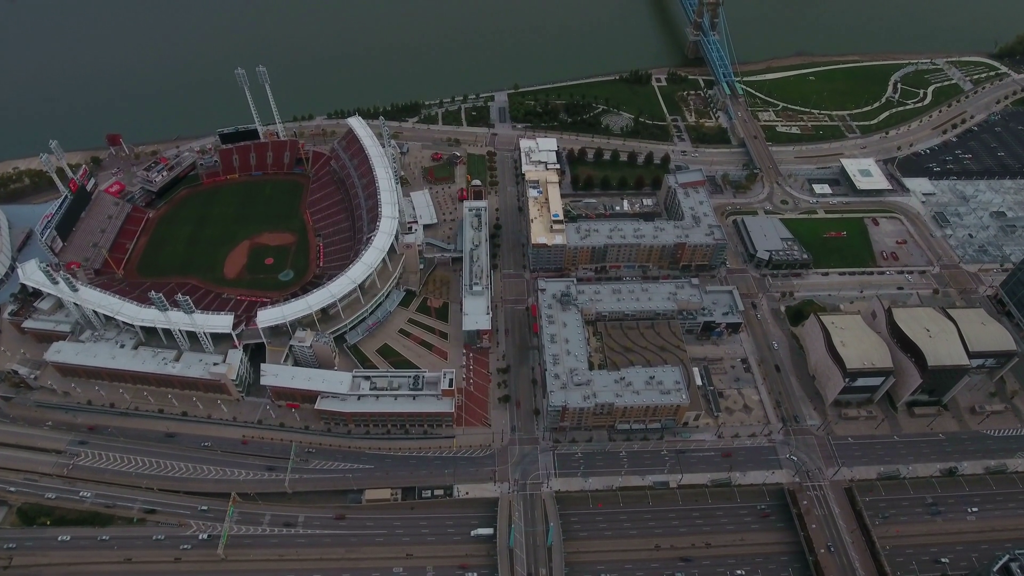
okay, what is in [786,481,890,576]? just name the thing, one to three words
overpass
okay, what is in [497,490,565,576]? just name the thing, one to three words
overpass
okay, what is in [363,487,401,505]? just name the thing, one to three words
building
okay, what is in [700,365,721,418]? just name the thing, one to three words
shed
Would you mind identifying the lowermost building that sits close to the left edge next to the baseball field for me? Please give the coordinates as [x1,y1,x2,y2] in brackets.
[44,326,226,394]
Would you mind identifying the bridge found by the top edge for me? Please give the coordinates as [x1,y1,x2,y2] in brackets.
[679,0,783,187]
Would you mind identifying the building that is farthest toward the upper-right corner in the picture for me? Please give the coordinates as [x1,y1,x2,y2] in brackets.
[839,158,893,196]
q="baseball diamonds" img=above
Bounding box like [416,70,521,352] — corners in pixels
[124,174,318,295]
